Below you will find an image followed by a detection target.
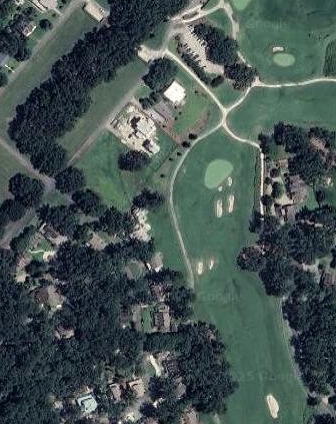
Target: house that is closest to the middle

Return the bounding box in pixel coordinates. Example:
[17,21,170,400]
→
[130,207,151,243]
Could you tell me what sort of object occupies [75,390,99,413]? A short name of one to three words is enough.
house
